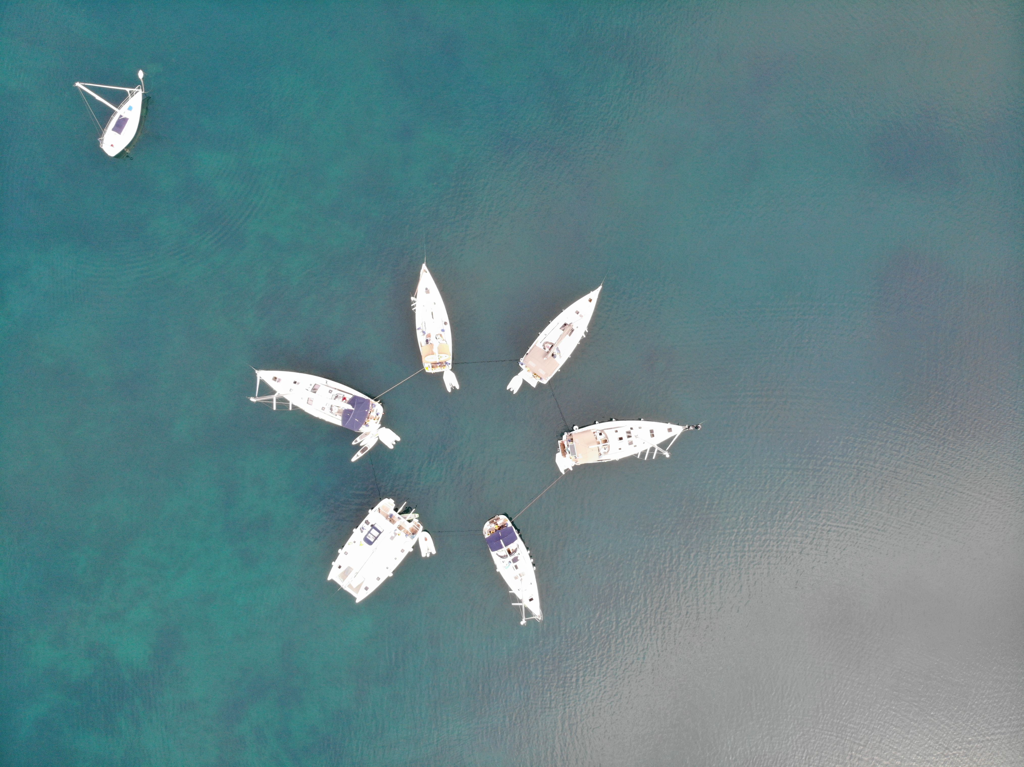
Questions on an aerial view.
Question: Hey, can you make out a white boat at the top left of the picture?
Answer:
Yes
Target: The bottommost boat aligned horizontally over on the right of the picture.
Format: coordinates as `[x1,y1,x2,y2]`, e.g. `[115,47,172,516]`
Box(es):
[558,421,684,465]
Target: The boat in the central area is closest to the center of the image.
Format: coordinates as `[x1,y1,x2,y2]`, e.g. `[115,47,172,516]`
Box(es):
[506,375,523,396]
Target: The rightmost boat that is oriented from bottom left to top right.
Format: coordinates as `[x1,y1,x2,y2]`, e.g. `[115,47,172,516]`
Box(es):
[518,285,603,387]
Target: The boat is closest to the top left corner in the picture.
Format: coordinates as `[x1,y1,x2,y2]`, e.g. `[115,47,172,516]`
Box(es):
[77,82,145,156]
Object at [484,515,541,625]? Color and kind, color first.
white boat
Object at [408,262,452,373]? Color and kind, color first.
white boat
